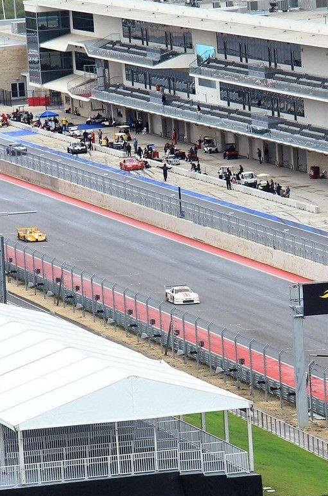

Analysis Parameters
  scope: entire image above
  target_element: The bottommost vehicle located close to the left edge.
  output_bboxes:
[16,225,47,241]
